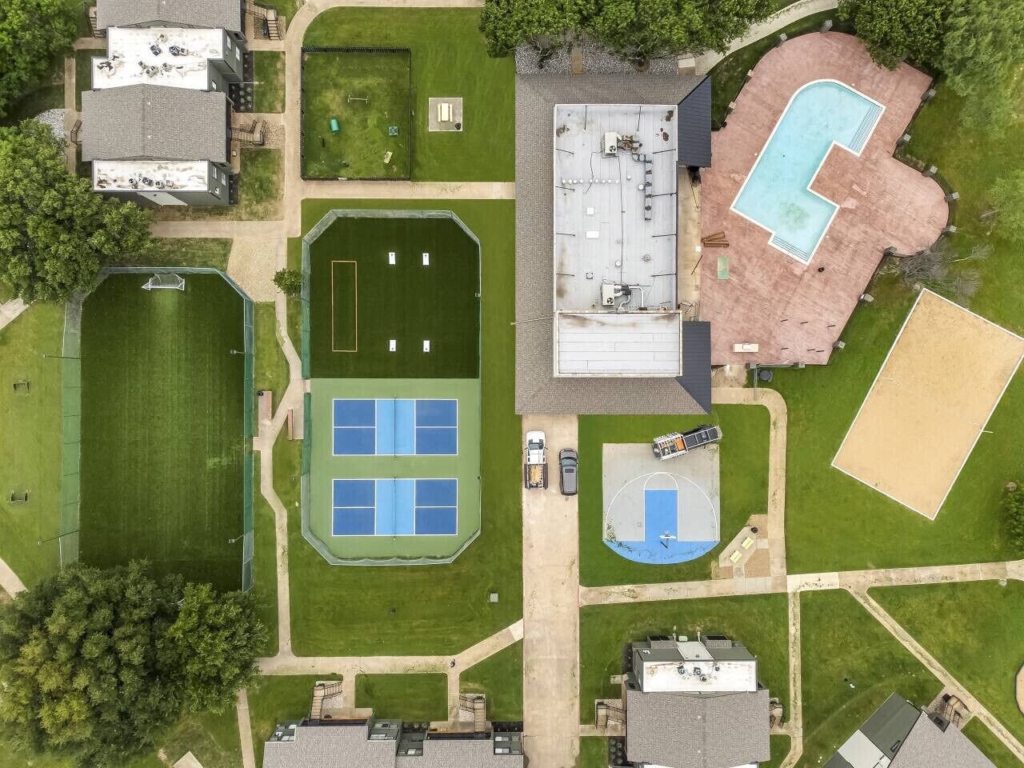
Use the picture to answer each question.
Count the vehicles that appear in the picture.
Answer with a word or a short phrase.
3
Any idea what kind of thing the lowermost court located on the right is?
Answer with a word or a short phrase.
basketball court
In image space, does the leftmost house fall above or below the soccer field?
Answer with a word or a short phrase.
above it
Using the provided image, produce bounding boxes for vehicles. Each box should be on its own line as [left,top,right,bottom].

[655,425,723,461]
[558,448,581,496]
[524,430,548,491]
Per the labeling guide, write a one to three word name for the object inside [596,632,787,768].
house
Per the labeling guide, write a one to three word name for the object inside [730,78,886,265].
swimming pool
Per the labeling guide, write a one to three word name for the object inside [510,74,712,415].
building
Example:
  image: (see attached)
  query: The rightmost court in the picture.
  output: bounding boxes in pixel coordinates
[832,289,1024,519]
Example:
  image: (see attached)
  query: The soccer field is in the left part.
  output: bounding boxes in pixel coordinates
[81,273,254,611]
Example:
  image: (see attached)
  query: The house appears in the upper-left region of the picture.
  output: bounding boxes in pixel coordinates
[65,0,281,205]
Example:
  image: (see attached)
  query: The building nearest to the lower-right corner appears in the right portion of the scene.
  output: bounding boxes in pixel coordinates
[824,687,997,768]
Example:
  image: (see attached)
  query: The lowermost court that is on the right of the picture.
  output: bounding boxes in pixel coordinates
[603,444,719,564]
